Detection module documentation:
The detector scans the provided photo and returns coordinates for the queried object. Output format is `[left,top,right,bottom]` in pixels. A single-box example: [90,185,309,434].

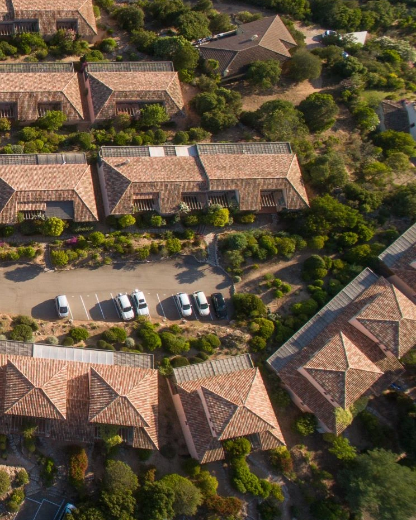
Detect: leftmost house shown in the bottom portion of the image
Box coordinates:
[0,339,163,451]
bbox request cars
[338,46,353,57]
[318,28,338,40]
[112,294,133,322]
[206,293,228,321]
[173,294,192,318]
[128,289,151,321]
[54,295,69,319]
[189,291,211,318]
